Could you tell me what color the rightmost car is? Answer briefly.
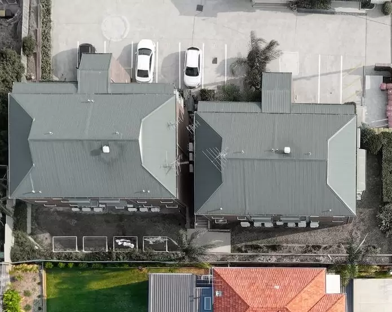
white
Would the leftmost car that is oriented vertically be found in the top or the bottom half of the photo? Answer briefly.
top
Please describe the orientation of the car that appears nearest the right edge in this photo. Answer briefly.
from top to bottom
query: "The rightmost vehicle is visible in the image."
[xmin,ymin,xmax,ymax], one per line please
[182,47,203,89]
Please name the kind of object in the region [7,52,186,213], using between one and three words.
building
